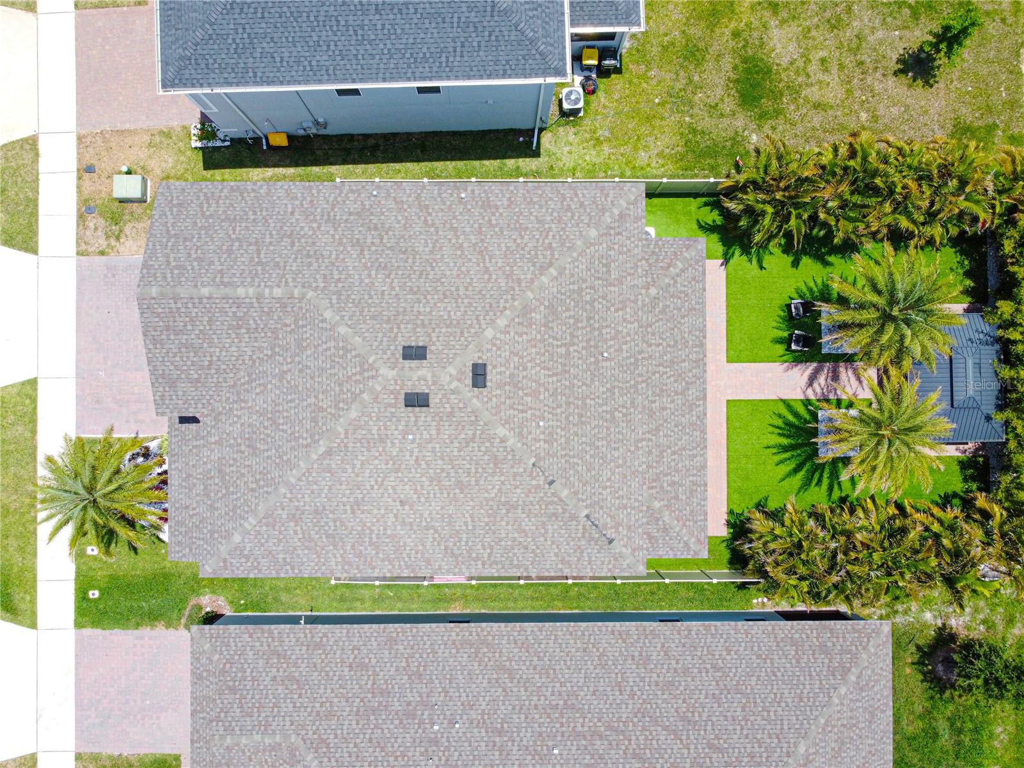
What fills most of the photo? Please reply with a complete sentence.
The largest share of the image is taken up by buildings.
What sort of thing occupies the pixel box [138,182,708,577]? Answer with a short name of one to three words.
house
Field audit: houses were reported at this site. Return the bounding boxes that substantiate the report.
[152,0,648,151]
[138,182,708,577]
[190,609,891,768]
